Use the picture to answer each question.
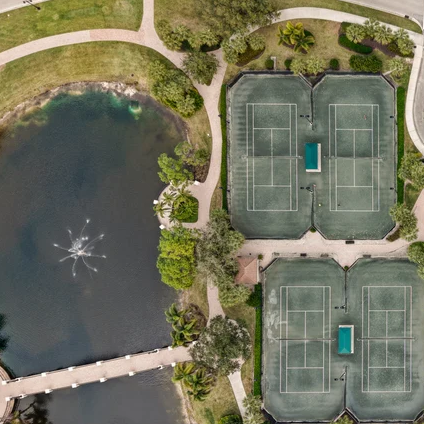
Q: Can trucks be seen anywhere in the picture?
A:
No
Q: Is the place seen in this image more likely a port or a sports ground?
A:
sports ground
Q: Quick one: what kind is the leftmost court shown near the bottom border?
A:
tennis court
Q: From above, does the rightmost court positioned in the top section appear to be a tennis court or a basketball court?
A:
tennis court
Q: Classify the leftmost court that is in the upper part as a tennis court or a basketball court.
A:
tennis court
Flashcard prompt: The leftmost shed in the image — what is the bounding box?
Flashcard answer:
[236,256,261,284]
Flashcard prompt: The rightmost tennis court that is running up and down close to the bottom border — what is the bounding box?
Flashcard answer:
[346,259,424,421]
